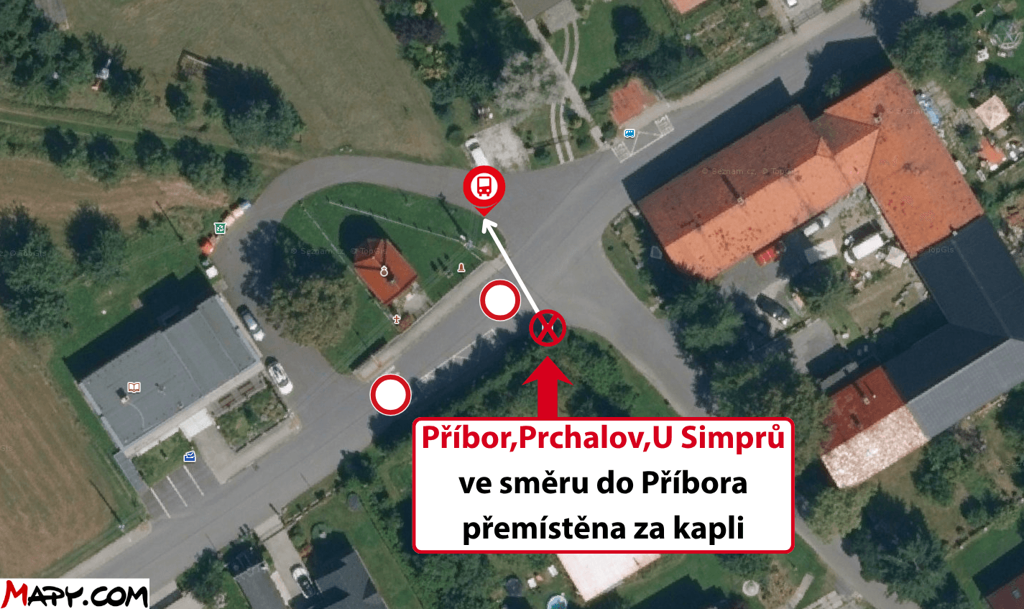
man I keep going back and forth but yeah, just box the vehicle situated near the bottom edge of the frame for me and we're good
[289,561,320,601]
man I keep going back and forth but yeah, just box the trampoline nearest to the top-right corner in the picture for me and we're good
[996,19,1024,48]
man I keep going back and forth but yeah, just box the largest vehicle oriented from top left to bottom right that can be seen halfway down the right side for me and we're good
[754,293,794,326]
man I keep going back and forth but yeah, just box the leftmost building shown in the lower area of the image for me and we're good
[75,294,259,455]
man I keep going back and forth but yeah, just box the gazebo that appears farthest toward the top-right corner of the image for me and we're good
[975,95,1011,130]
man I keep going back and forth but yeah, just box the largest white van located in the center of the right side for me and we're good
[842,229,889,264]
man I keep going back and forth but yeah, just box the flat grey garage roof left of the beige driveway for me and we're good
[234,561,286,609]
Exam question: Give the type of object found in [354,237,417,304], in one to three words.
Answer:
building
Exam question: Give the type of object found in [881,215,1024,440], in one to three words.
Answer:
barn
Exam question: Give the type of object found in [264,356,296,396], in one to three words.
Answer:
car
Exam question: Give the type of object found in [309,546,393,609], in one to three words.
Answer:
house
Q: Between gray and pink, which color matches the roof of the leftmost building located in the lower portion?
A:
gray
